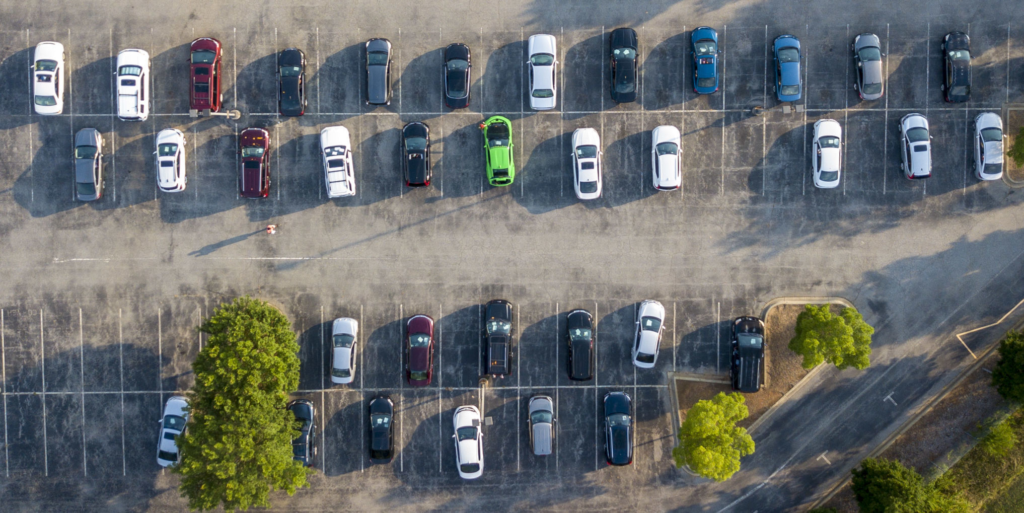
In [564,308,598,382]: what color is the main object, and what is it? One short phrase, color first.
black car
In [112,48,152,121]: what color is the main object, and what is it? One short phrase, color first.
white car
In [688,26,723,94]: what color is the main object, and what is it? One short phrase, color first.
blue car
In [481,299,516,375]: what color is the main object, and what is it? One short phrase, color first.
black car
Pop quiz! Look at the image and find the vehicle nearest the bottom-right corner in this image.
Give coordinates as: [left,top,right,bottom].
[731,315,768,394]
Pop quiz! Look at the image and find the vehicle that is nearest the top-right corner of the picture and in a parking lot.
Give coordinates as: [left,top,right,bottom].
[939,31,977,102]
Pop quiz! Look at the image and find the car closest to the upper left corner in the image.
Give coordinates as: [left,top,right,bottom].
[28,41,68,115]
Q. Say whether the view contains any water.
No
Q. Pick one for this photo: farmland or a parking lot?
parking lot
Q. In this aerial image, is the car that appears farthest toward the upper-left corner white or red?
white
